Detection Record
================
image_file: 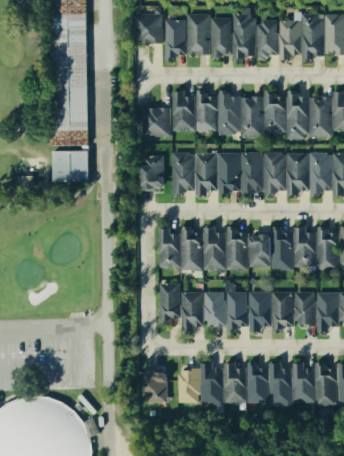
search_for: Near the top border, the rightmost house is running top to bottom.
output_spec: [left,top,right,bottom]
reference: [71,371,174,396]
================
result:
[325,14,344,56]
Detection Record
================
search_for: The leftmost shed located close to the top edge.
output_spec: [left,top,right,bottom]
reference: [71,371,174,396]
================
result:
[50,0,86,146]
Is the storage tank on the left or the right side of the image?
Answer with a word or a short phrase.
left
